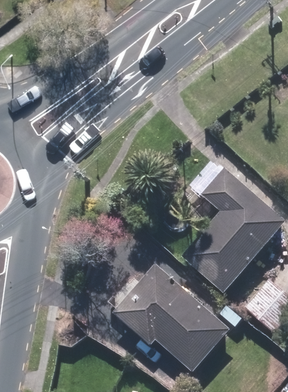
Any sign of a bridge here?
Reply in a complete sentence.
No, there's no bridge here.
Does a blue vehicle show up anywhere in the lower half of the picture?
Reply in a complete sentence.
Yes, there is a blue vehicle in the lower half of the picture.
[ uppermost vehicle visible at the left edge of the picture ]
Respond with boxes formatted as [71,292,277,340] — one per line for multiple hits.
[8,85,41,112]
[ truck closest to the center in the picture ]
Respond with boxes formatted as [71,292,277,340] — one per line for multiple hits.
[68,123,99,154]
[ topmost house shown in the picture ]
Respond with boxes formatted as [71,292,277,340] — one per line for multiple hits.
[182,162,284,294]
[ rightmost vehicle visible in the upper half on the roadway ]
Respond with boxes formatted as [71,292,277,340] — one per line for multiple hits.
[134,44,166,70]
